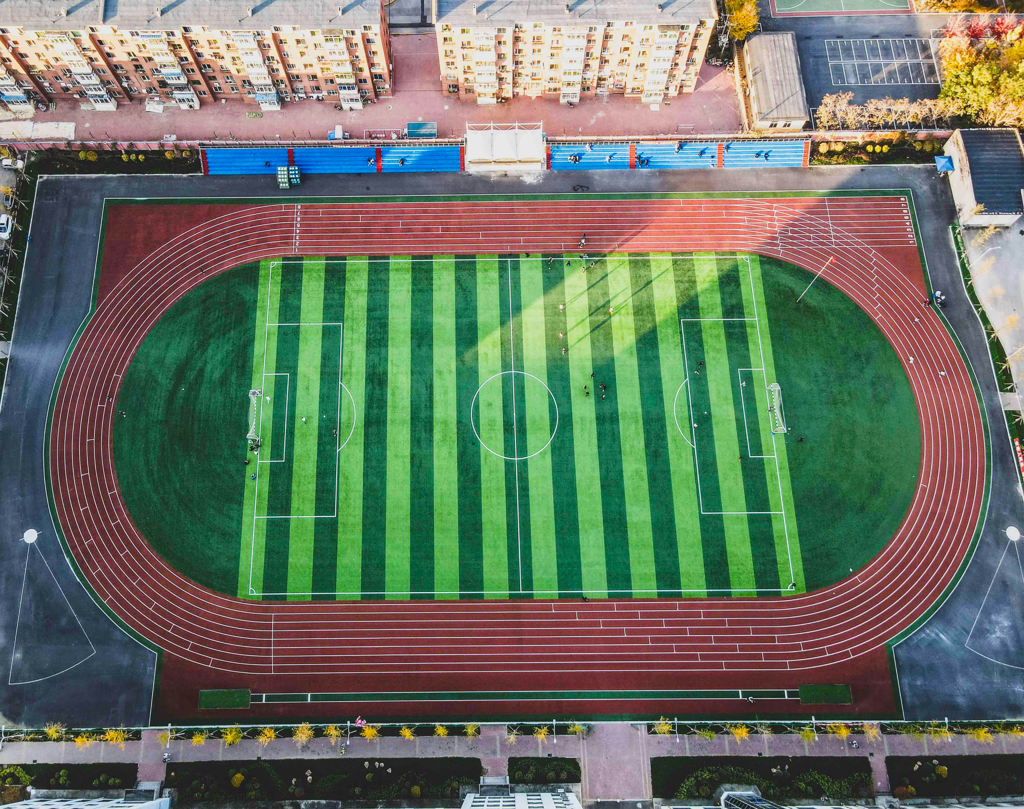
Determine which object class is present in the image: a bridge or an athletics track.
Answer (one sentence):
I can see an athletics track in this picture.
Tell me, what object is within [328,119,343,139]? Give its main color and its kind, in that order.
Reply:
white vehicle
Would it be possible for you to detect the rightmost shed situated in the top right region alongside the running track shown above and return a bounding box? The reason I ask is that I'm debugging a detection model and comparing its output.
[944,127,1024,225]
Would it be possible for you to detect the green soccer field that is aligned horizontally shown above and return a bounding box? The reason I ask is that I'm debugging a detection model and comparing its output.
[117,251,918,601]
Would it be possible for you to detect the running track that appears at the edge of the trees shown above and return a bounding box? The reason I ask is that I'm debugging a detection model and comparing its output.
[49,189,989,728]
